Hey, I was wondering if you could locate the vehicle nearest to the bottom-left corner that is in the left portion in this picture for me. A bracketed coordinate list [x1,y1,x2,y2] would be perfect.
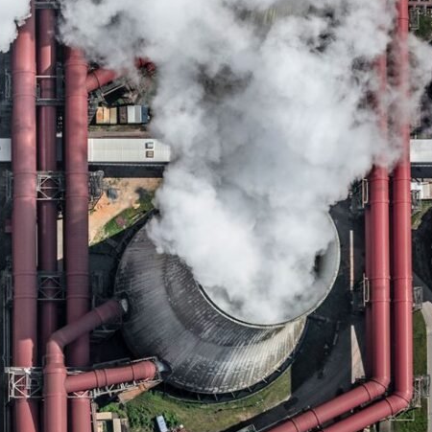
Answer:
[156,416,168,432]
